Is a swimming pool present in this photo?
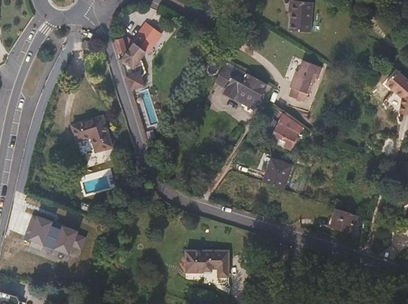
Yes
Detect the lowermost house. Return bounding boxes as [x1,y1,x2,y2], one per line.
[180,250,229,280]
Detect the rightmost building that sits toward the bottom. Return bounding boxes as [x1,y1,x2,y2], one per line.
[329,209,357,231]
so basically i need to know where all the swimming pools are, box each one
[80,168,114,197]
[134,87,158,130]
